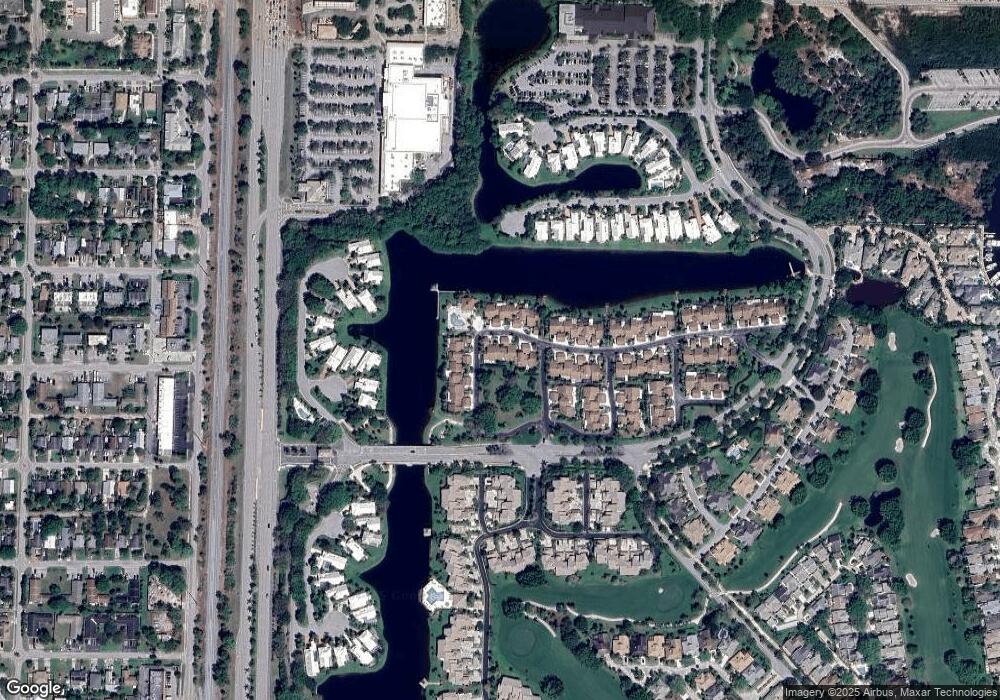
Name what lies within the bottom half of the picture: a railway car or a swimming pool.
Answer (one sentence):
The one visible within the bottom half of the picture is a swimming pool.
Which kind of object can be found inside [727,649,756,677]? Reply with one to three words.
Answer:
house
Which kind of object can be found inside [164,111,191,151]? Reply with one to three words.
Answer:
building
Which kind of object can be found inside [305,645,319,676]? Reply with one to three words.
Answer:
house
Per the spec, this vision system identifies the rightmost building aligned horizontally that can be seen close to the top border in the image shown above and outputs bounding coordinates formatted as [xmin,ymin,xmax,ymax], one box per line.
[559,3,656,46]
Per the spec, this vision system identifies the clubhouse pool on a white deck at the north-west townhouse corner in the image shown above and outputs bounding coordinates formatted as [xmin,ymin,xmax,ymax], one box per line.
[448,305,483,331]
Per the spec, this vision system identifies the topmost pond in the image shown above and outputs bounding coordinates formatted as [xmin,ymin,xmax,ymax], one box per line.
[750,54,814,132]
